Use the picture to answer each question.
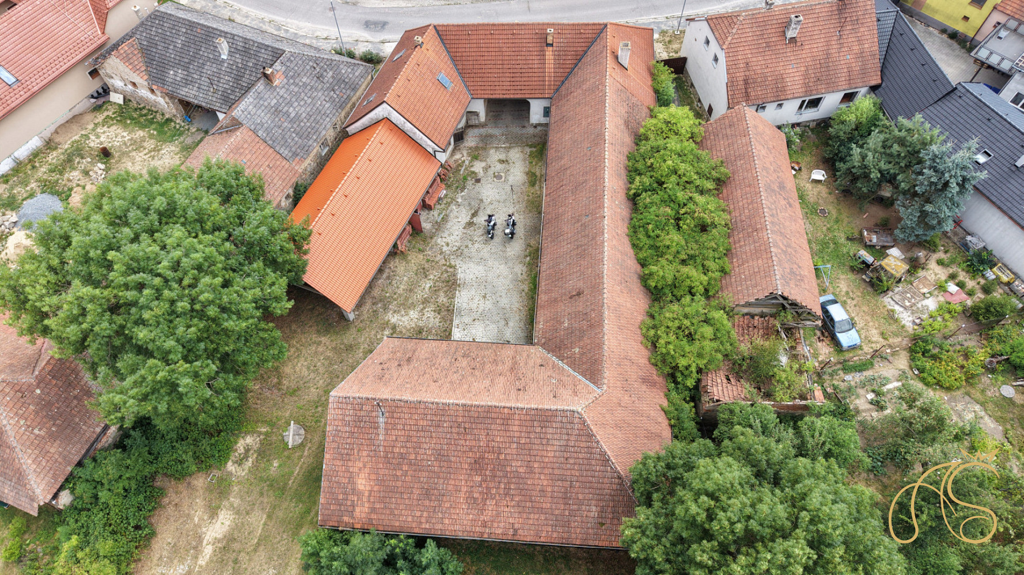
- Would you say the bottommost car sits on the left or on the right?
right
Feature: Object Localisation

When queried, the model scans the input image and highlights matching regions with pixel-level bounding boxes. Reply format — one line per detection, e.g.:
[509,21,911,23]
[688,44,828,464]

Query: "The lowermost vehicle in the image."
[818,292,867,356]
